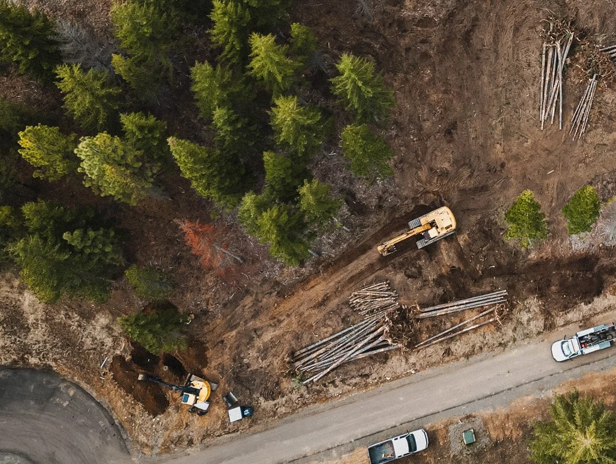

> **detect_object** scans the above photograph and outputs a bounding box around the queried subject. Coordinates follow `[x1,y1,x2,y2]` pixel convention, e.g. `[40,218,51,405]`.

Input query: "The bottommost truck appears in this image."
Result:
[363,428,433,464]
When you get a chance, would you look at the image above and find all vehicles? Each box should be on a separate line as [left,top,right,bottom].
[374,206,455,255]
[149,367,227,414]
[228,390,259,423]
[363,428,433,464]
[552,323,616,364]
